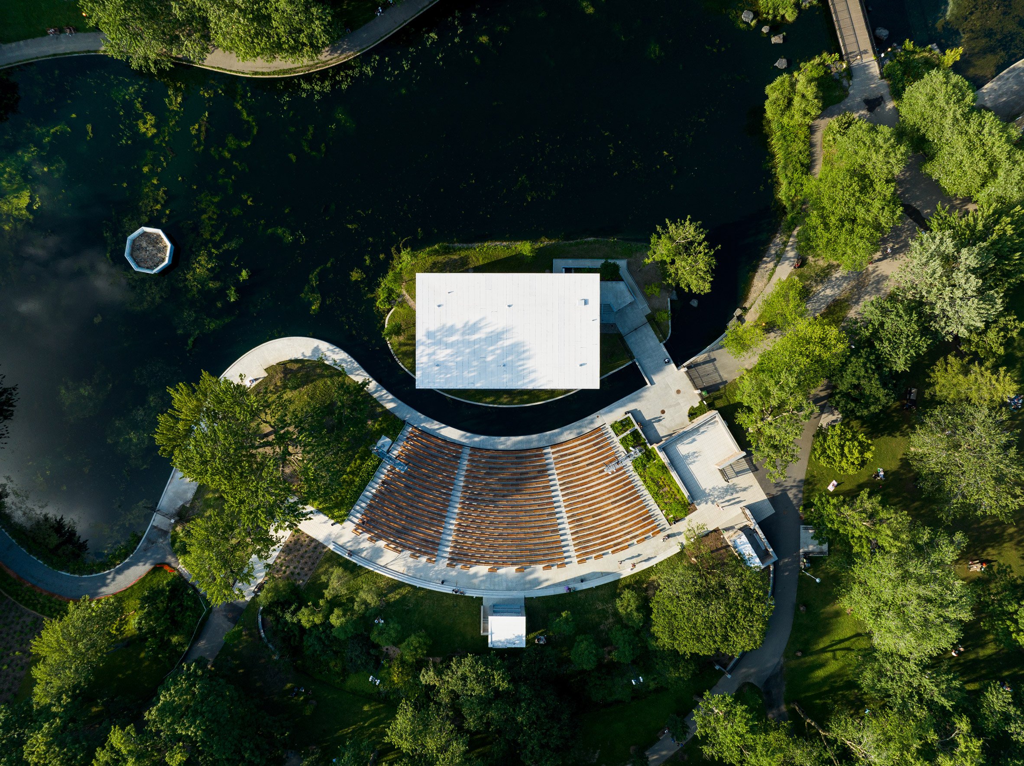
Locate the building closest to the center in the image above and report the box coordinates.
[416,273,600,389]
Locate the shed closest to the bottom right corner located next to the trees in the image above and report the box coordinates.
[723,504,778,568]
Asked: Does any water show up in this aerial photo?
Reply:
Yes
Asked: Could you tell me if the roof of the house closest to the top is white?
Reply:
Yes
